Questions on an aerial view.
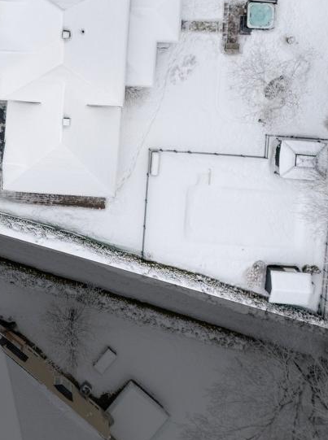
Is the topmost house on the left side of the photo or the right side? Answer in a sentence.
The topmost house appears in the left half of the scene.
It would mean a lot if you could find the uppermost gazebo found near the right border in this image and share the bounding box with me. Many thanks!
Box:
[271,136,327,179]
